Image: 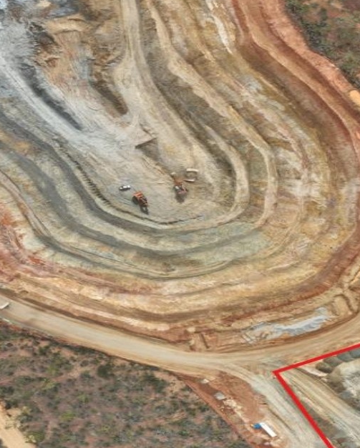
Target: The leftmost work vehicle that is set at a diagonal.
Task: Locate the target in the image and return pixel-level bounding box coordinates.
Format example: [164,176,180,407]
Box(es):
[133,189,147,209]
